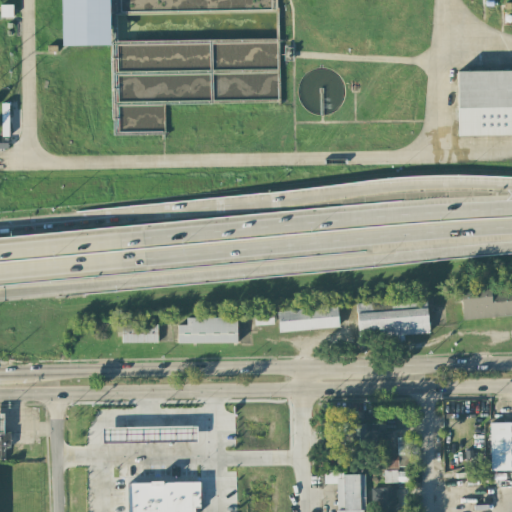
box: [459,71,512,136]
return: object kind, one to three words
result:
shed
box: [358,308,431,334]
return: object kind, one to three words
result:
house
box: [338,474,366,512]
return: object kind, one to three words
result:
building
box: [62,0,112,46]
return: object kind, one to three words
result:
shed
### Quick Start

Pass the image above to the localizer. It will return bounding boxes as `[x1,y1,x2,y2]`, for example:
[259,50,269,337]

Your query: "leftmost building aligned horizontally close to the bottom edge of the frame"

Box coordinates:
[132,481,202,512]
